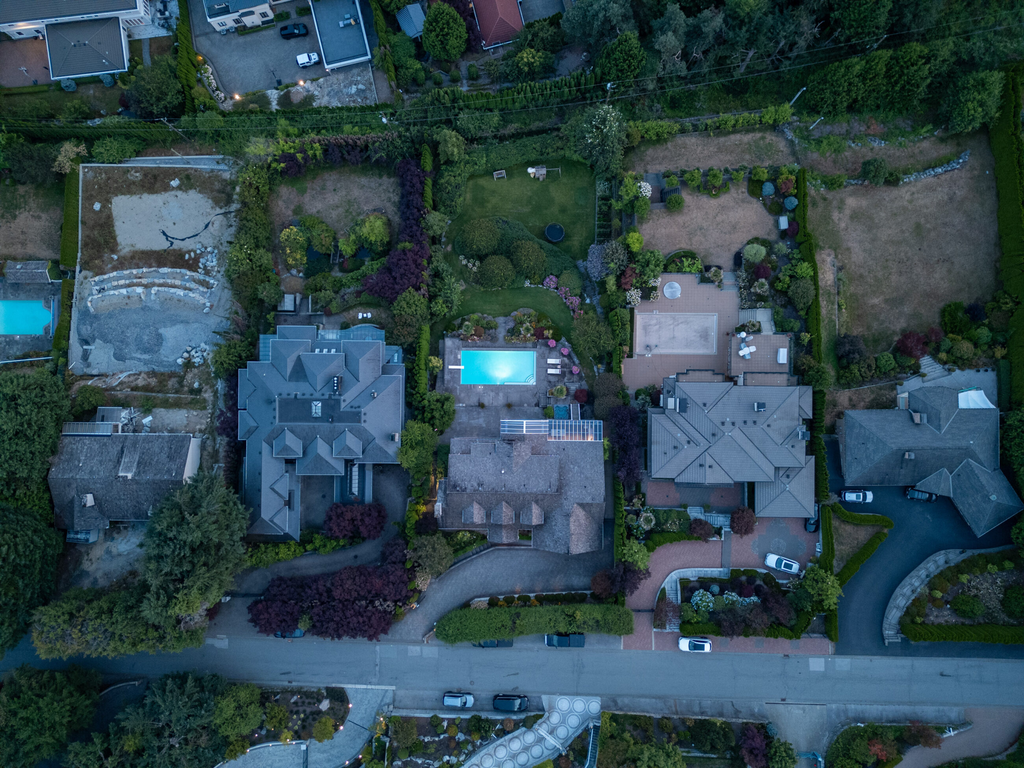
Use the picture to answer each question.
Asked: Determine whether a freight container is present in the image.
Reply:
No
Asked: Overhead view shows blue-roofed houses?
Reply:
Yes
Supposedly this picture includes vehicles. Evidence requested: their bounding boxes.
[677,636,712,653]
[903,486,940,505]
[764,553,801,575]
[544,631,586,650]
[473,632,514,651]
[274,625,306,641]
[443,690,475,709]
[839,488,874,505]
[290,50,324,71]
[802,503,820,535]
[493,693,529,712]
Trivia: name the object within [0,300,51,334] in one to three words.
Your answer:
swimming pool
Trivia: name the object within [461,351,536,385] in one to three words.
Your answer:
swimming pool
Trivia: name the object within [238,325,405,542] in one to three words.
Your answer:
house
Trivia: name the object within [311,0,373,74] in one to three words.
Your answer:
building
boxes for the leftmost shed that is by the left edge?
[1,260,58,283]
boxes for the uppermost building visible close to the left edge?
[0,0,165,83]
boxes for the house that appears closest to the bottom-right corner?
[832,387,1024,538]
